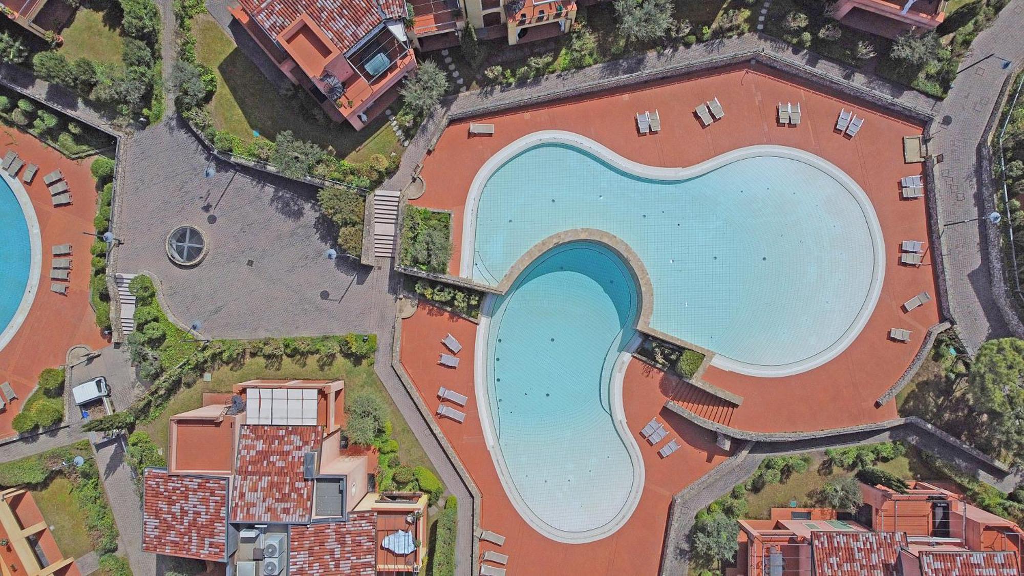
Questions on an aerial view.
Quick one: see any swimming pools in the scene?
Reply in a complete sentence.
Yes, this view includes a swimming pool.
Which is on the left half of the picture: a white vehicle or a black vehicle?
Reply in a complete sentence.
The one visible on the left half of the picture is a white vehicle.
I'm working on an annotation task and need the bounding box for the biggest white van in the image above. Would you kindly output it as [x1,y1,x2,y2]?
[72,374,124,405]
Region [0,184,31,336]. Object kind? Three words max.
swimming pool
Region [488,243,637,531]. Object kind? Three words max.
swimming pool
